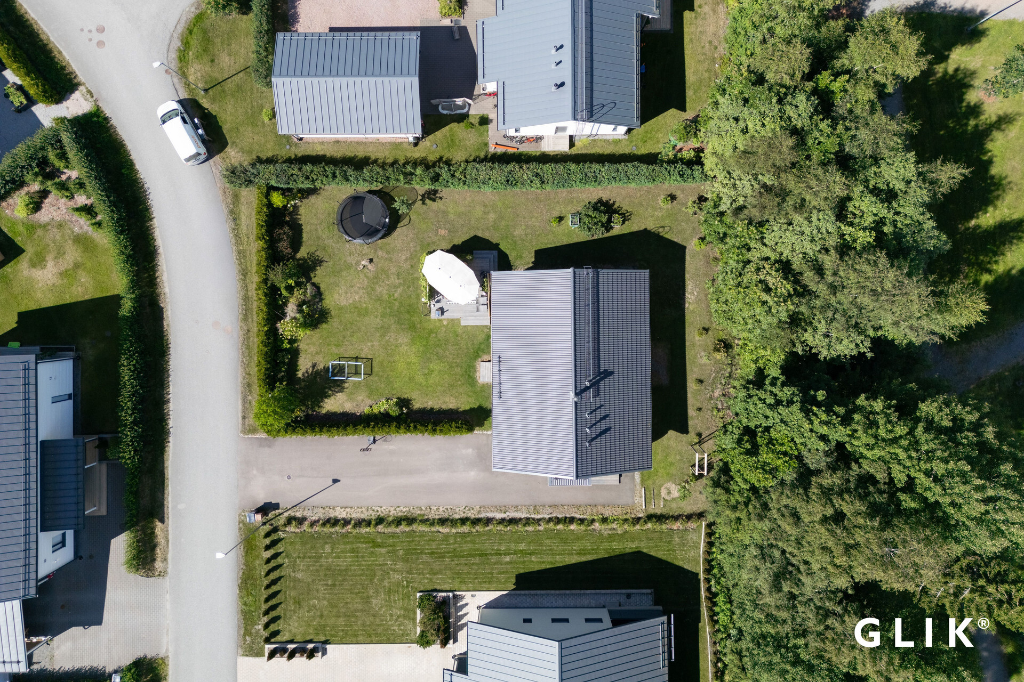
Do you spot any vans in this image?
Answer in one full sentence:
Yes, looking at the shot, I can spot a van.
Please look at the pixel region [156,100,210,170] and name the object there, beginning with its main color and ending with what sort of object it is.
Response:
white van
